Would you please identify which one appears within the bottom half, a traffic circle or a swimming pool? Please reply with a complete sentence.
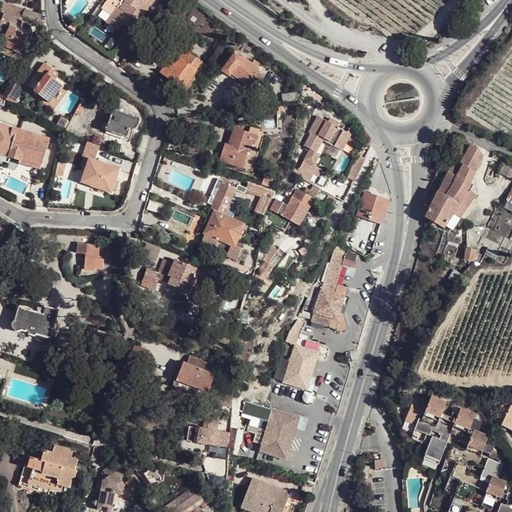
The one visible within the bottom half is a swimming pool.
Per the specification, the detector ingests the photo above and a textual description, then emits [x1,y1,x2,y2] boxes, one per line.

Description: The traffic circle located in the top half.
[363,62,442,140]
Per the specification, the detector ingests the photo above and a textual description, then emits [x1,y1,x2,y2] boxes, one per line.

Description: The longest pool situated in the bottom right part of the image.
[407,478,422,508]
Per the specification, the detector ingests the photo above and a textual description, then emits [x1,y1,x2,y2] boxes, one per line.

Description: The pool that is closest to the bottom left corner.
[6,378,47,406]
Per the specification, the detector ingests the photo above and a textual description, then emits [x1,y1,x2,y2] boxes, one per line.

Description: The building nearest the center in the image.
[258,244,282,280]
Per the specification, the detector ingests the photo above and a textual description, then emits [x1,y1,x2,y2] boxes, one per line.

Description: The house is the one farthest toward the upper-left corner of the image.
[2,2,42,48]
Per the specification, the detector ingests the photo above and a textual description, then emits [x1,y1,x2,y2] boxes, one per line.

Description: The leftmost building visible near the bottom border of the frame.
[26,444,77,492]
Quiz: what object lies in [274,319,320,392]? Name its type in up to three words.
building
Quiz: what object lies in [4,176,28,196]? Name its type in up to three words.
swimming pool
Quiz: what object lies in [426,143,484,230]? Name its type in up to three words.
house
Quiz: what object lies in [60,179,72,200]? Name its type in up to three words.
swimming pool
